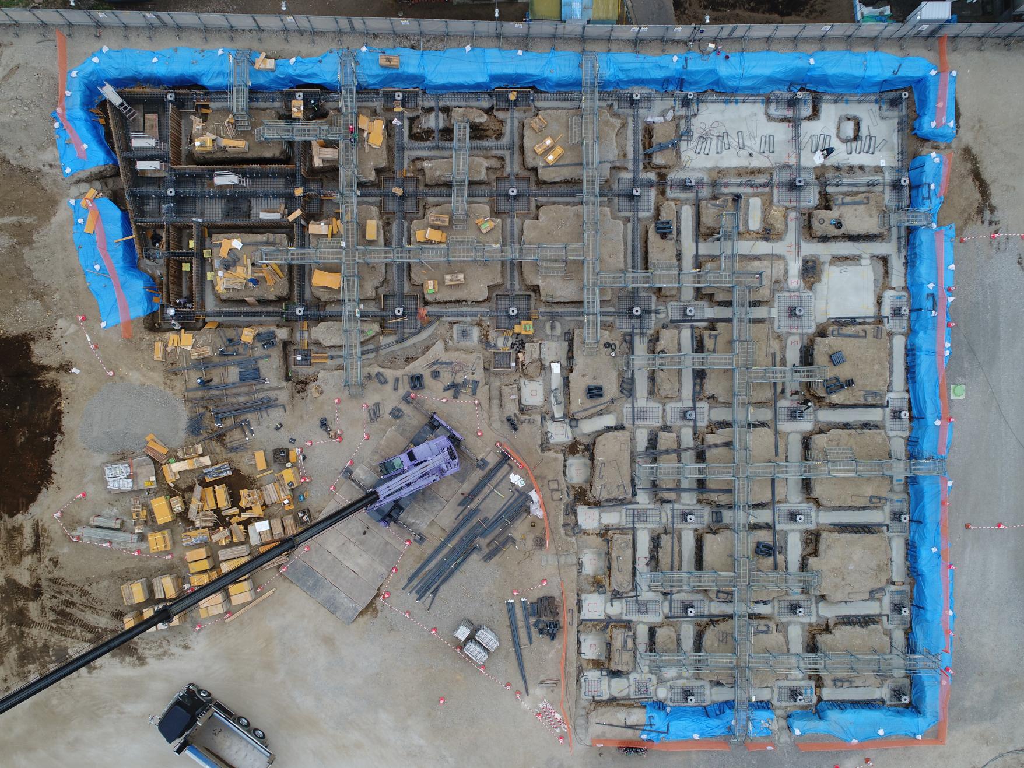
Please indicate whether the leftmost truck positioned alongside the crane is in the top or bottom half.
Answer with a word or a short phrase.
bottom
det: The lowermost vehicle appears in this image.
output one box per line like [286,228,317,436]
[149,678,280,768]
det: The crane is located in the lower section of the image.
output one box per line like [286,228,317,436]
[0,395,487,711]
